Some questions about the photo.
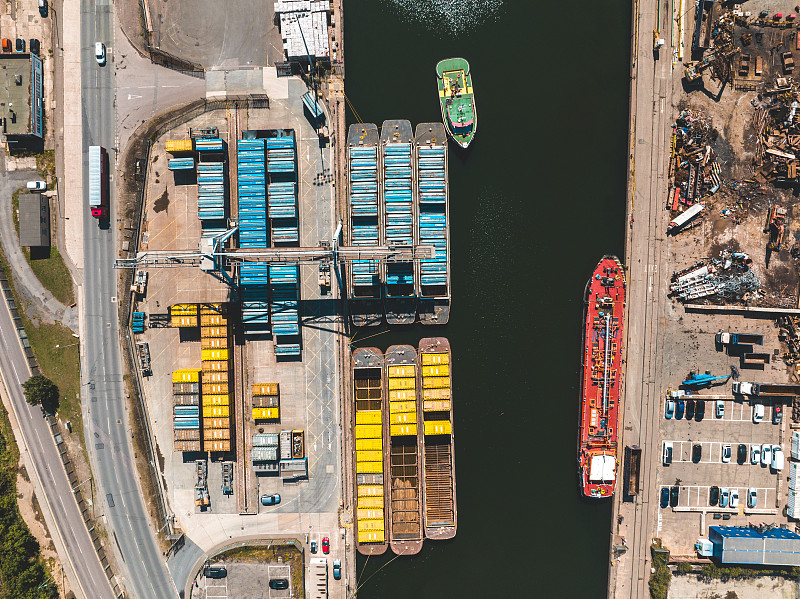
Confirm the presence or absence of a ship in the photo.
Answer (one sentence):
Yes, there's a ship here.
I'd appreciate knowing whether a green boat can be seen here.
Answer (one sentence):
Yes, a green boat can be made out from above.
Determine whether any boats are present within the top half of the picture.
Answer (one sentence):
Yes, a boat can be seen within the top half of the picture.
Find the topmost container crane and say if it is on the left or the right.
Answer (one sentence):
The topmost container crane is on the left side of the image.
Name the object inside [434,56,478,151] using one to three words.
boat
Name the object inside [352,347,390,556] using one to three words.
ship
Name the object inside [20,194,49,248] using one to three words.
shed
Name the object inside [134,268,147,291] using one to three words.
vehicle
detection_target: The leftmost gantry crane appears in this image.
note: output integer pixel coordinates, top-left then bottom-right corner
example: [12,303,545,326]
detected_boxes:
[115,219,437,296]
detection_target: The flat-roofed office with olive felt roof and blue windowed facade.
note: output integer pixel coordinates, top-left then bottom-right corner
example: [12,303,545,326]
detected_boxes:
[0,53,43,138]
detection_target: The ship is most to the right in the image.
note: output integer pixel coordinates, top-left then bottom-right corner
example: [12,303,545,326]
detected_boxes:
[576,256,625,498]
